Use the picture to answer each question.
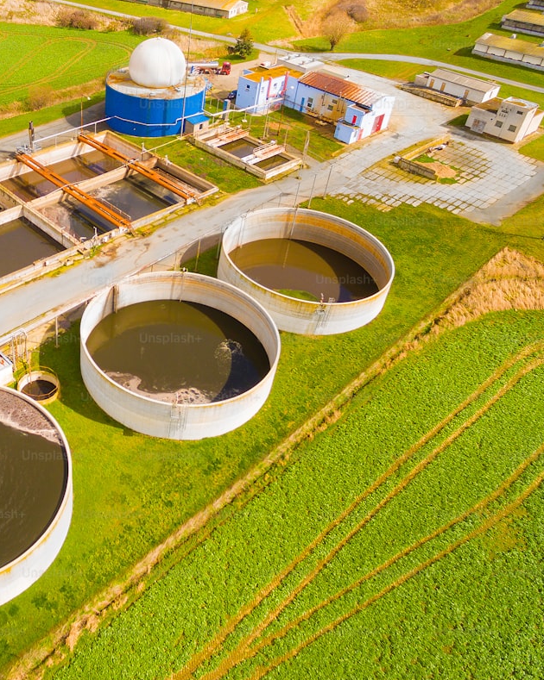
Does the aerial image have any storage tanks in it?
Yes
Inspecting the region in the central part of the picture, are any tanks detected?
Yes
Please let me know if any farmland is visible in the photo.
Yes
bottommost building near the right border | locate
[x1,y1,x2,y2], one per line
[465,95,544,142]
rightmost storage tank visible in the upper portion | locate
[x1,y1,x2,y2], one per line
[215,203,397,337]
